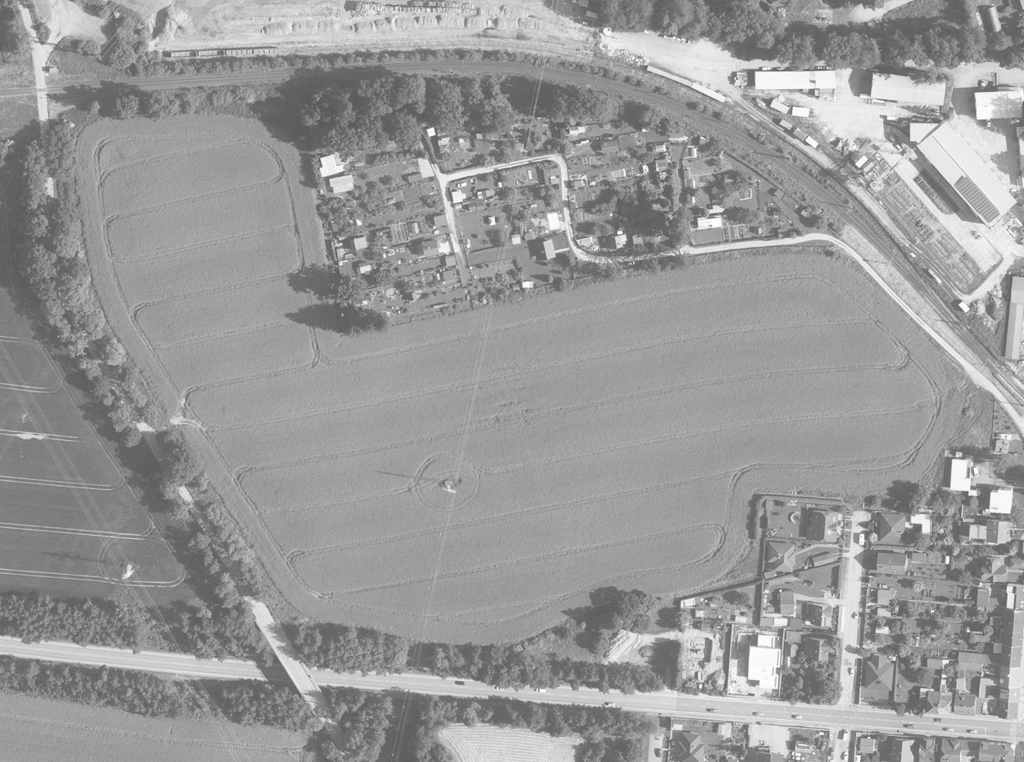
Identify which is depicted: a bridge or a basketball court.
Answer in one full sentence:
This aerial view contains a bridge.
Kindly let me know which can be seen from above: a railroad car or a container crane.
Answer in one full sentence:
The one in the frame is a railroad car.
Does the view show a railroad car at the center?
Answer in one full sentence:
No, no railroad car is visible at the center.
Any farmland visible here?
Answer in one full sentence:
Yes, there's farmland in this view.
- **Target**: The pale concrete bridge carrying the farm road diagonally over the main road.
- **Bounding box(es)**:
[251,599,324,711]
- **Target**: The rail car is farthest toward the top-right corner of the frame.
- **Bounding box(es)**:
[692,81,727,103]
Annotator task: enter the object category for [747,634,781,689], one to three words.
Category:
building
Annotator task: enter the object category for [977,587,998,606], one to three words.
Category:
shed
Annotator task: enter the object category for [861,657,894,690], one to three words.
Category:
house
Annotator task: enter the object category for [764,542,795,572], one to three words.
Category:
house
